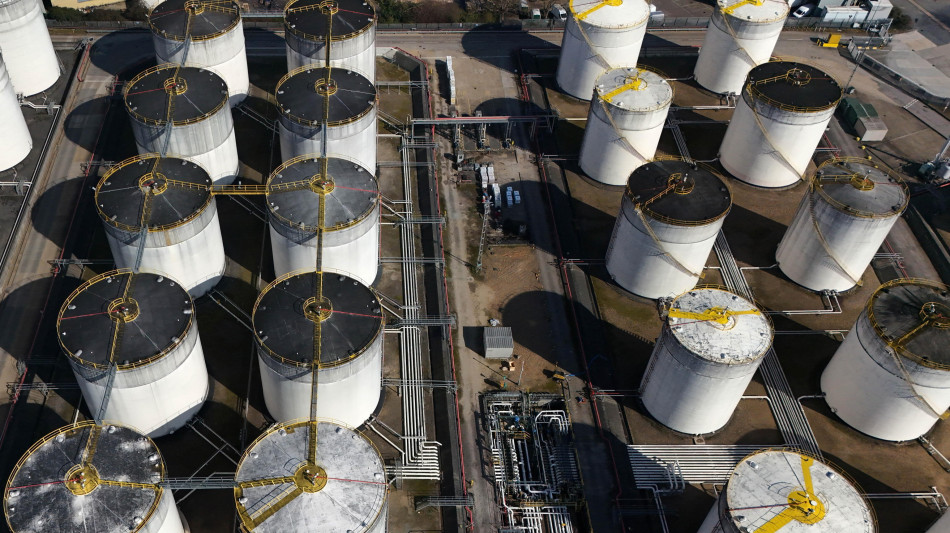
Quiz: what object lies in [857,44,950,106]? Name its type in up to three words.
building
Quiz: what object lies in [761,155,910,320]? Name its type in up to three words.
storage tank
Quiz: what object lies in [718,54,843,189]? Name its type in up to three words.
storage tank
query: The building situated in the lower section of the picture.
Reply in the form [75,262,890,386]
[483,328,515,358]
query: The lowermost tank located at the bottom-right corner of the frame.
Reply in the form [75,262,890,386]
[695,444,879,533]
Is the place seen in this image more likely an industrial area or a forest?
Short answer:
industrial area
